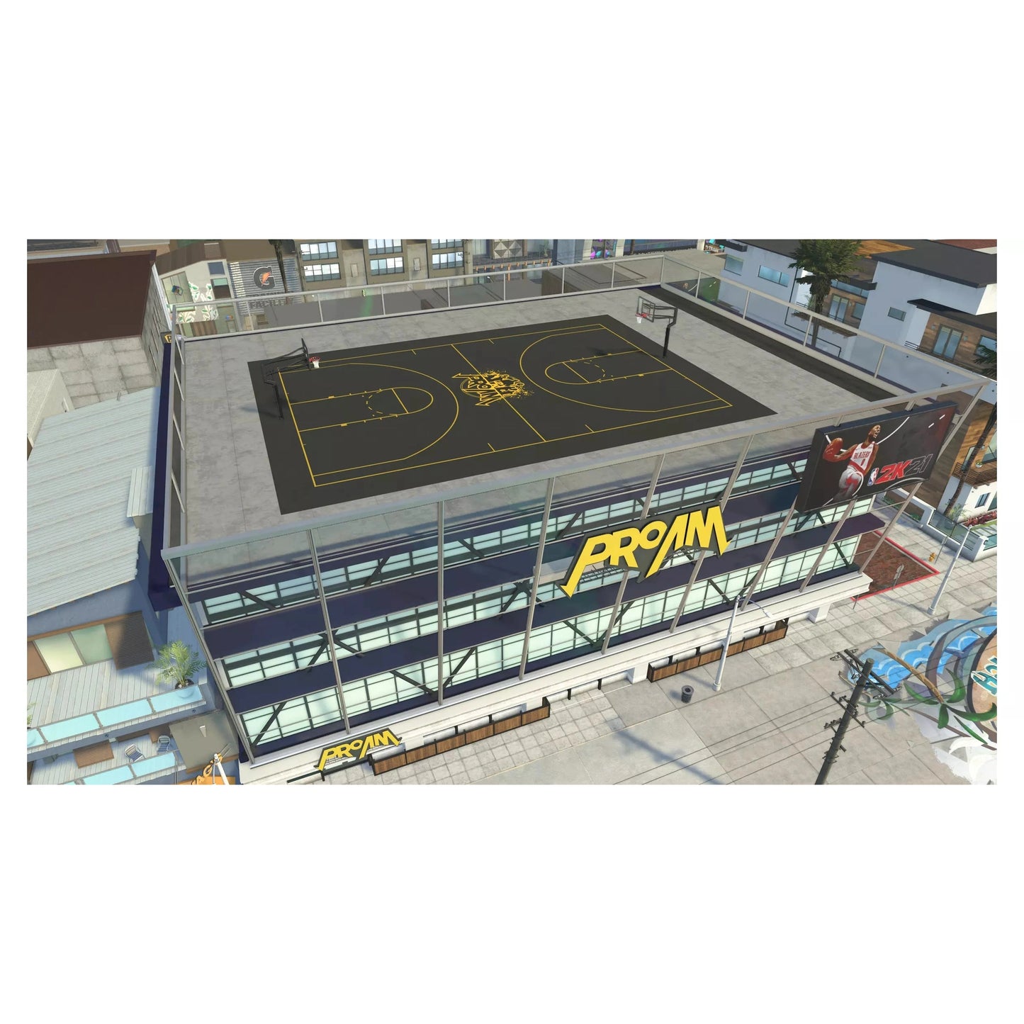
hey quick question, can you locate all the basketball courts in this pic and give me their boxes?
[248,315,778,515]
